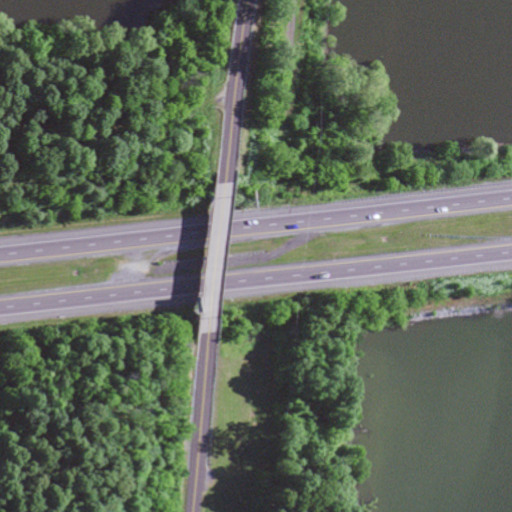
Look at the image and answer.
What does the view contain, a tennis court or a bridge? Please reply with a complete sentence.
This aerial view contains a bridge.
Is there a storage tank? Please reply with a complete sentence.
No, no storage tank can be seen from above.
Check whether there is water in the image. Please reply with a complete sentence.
Yes, there's water in this view.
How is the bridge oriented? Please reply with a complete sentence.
The bridge runs up and down in the image.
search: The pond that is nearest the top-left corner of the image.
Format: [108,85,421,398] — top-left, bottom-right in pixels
[0,0,171,28]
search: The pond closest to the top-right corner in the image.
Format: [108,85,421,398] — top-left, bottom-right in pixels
[325,0,512,148]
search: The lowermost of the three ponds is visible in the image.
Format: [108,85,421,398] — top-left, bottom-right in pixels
[356,308,512,512]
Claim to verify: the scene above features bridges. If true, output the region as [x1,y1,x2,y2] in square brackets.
[200,178,236,337]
